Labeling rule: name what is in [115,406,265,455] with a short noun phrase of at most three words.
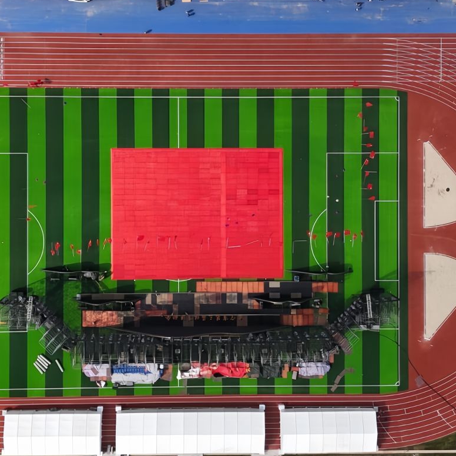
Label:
tent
